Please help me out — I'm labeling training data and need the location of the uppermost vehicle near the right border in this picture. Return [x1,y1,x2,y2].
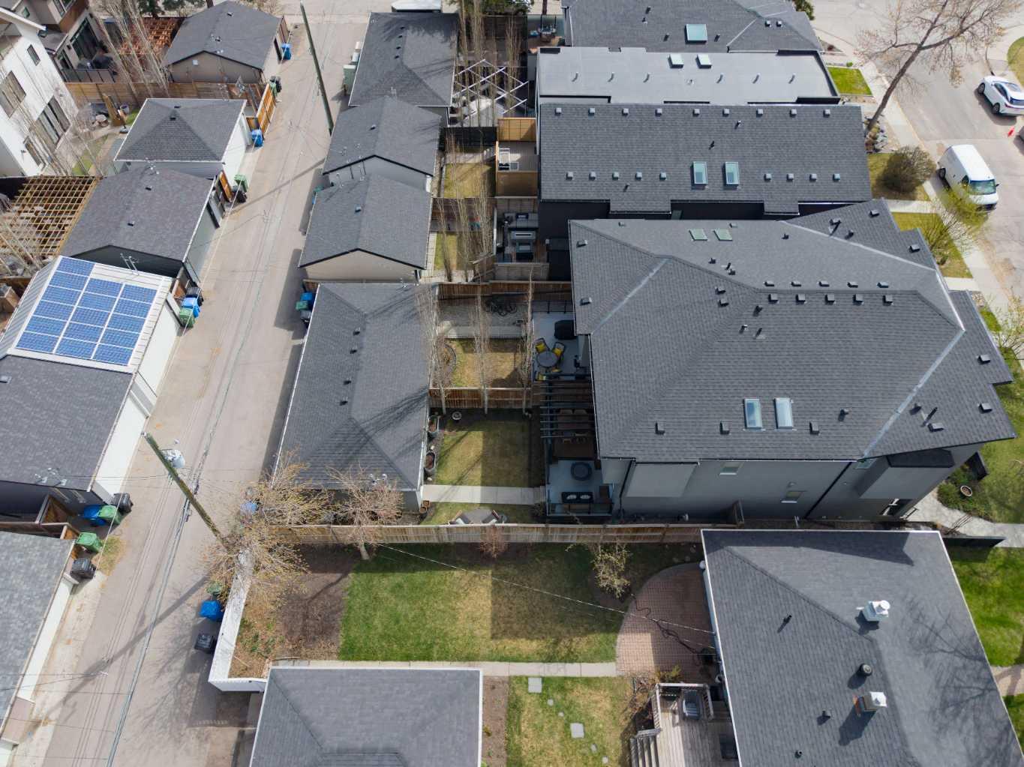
[981,75,1024,114]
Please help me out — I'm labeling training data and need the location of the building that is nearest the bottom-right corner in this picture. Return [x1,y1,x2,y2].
[698,528,1024,767]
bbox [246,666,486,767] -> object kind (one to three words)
building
